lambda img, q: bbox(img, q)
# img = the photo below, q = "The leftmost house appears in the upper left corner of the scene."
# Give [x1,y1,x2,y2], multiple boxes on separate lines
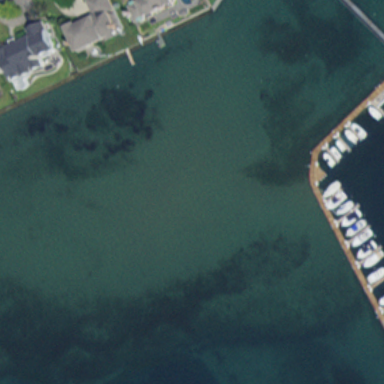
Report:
[0,20,49,77]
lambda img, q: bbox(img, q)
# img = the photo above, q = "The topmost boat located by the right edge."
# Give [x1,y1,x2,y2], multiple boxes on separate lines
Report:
[367,108,383,123]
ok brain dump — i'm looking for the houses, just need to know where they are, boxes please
[124,0,172,24]
[0,20,49,77]
[62,0,122,52]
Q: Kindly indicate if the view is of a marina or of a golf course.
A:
marina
